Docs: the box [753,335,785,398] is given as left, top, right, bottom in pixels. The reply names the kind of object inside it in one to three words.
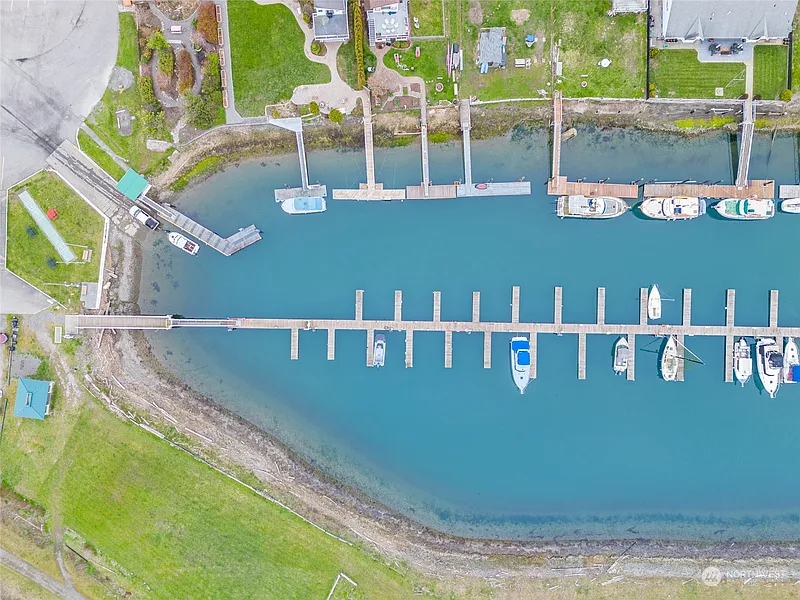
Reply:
boat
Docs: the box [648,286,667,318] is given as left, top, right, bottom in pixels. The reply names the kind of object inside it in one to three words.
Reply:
boat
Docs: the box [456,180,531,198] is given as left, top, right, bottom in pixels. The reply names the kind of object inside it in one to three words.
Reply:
pier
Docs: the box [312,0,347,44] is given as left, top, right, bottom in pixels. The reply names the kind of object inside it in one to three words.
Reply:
house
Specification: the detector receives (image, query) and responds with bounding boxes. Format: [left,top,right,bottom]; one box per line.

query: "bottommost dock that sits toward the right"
[227,286,800,383]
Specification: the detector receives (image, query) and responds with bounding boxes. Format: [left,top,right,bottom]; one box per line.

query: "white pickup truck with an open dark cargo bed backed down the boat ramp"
[125,201,162,232]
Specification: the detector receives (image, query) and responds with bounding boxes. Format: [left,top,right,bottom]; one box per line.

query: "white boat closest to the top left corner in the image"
[169,234,200,255]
